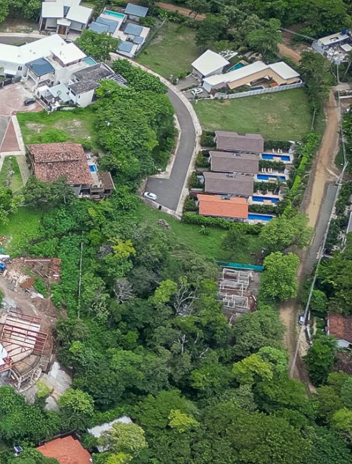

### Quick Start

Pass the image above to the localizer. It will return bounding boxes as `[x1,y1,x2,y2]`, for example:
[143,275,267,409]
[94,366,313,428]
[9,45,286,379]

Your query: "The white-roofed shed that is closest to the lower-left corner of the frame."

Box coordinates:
[86,424,109,459]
